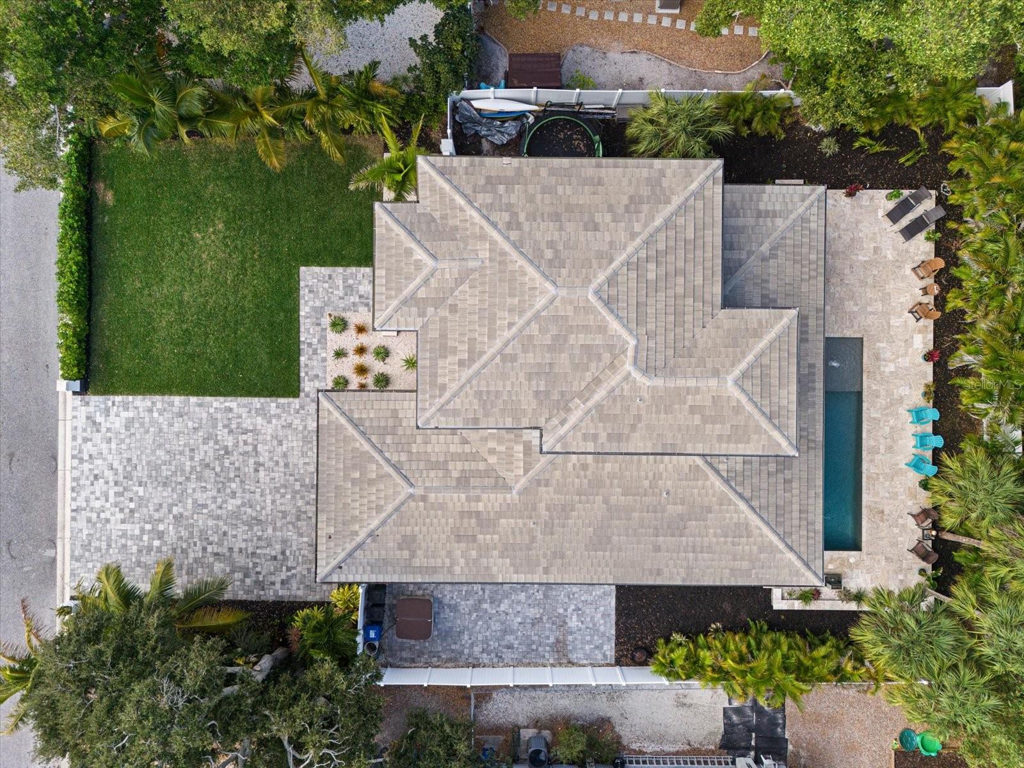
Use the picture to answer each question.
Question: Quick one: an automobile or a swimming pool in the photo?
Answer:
swimming pool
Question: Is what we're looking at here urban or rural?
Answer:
urban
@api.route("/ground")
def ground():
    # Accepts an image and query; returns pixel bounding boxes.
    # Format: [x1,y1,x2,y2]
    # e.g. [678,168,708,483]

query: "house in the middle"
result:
[315,154,828,586]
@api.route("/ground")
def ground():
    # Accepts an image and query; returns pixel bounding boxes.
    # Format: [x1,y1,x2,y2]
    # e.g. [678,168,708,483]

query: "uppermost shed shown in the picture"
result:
[509,54,561,88]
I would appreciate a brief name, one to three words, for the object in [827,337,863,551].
swimming pool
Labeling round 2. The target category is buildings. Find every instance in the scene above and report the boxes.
[509,54,561,88]
[315,154,828,586]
